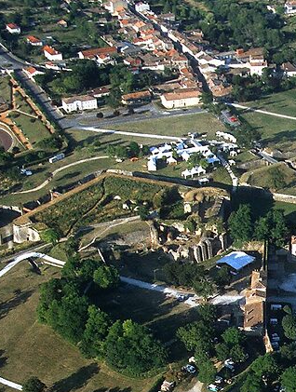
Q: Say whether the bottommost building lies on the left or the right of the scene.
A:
right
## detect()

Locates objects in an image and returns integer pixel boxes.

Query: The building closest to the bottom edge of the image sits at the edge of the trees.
[237,270,269,354]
